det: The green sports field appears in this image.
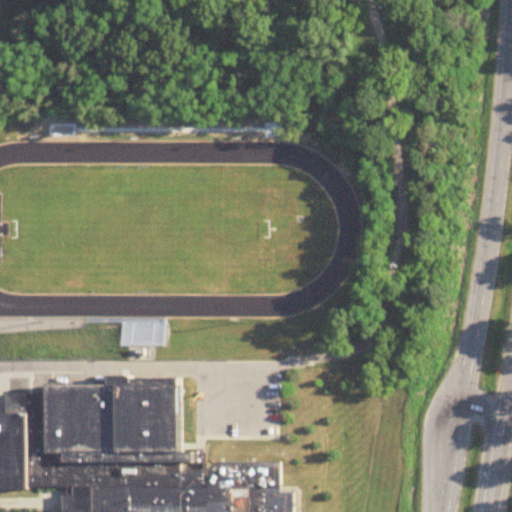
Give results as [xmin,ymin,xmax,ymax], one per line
[0,164,340,294]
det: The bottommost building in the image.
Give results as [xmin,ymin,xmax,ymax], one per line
[0,376,296,512]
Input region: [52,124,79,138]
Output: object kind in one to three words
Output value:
shed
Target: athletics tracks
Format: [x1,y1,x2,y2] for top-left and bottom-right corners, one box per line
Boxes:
[0,141,362,318]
